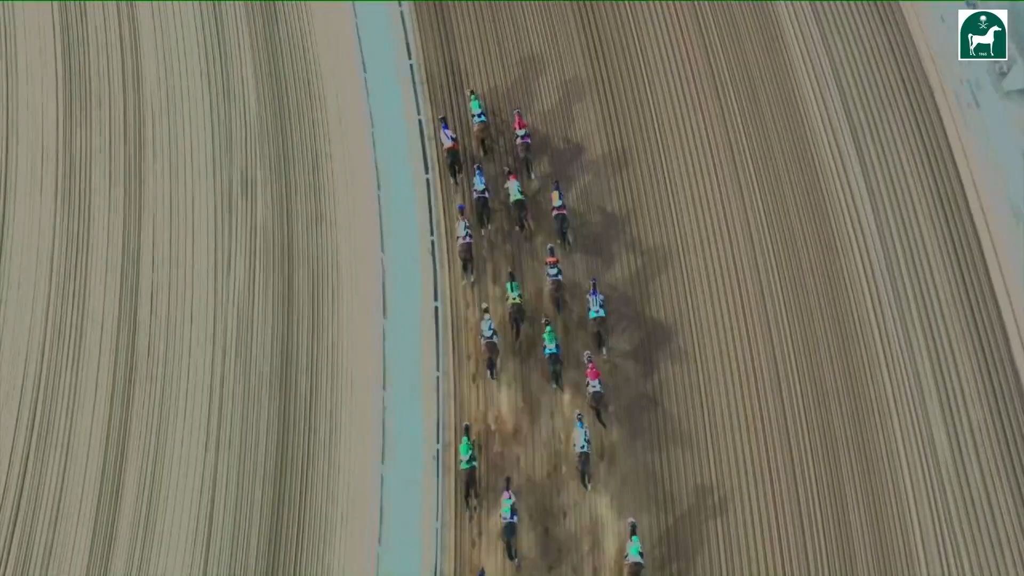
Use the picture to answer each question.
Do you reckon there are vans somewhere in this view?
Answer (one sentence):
No, no van can be seen from above.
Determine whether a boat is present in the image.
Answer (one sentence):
No, I can't see a single boat in this photo.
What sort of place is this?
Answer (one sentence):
It's a sports ground.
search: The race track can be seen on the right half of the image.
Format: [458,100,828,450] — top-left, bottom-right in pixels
[412,0,1024,576]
